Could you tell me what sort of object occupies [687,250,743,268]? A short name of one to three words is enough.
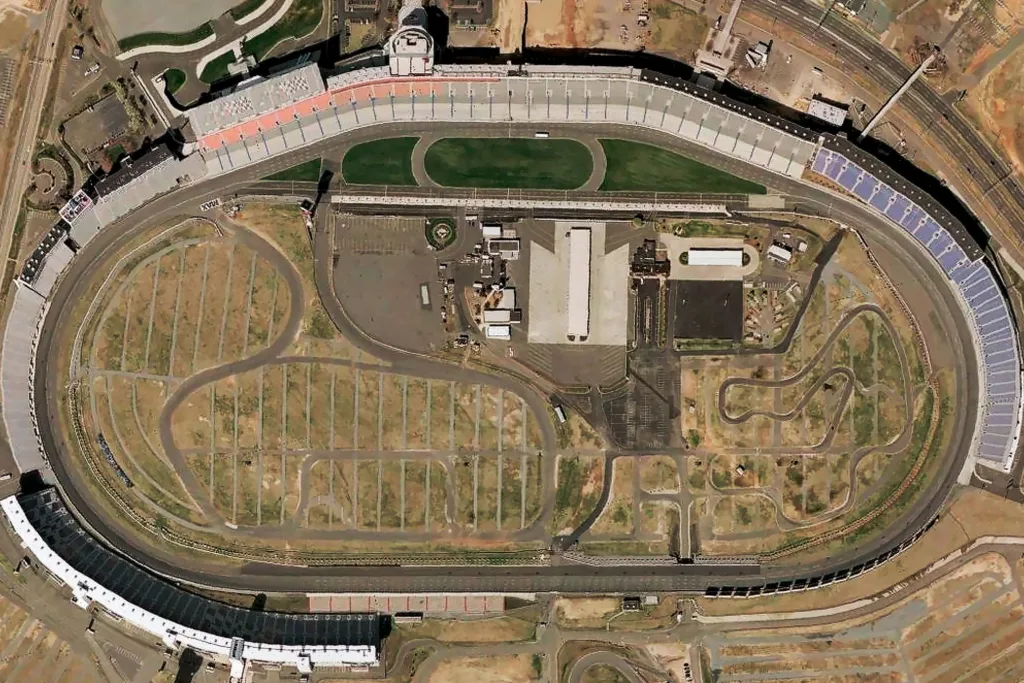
building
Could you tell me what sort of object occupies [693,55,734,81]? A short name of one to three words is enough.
building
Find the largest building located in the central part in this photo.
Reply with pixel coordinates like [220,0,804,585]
[566,227,590,341]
